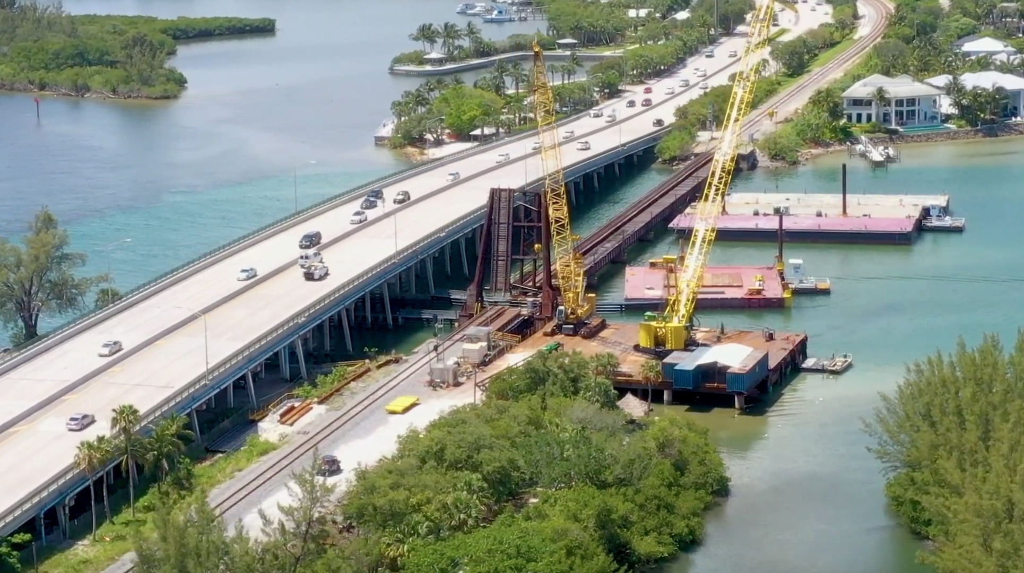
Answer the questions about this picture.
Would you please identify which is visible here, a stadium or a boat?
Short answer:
boat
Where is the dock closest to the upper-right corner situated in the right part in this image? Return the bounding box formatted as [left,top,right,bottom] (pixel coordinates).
[857,137,890,167]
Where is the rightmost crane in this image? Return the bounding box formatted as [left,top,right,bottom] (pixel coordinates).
[636,0,783,351]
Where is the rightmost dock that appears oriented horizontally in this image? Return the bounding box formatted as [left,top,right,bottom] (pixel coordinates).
[798,354,837,372]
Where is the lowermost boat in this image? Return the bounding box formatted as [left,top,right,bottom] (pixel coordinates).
[826,354,855,373]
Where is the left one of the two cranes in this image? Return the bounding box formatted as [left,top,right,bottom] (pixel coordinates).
[531,36,602,335]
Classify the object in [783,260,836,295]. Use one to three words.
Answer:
boat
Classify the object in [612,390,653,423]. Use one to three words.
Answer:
shed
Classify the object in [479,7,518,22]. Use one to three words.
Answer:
boat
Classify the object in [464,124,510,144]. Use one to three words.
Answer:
building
